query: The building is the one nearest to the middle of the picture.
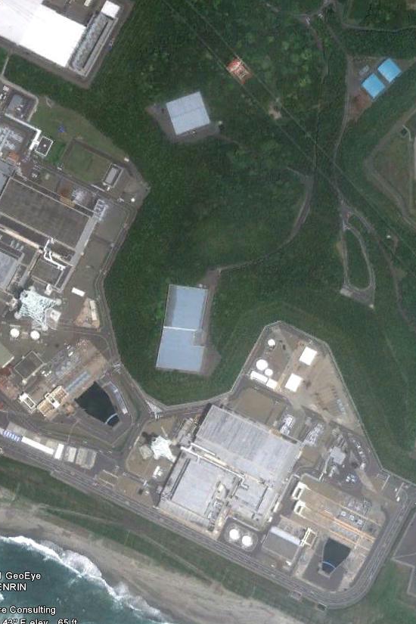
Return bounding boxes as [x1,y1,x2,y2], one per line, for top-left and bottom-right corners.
[155,284,208,373]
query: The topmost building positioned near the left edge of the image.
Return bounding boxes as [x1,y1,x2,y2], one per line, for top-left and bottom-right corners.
[0,0,86,69]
